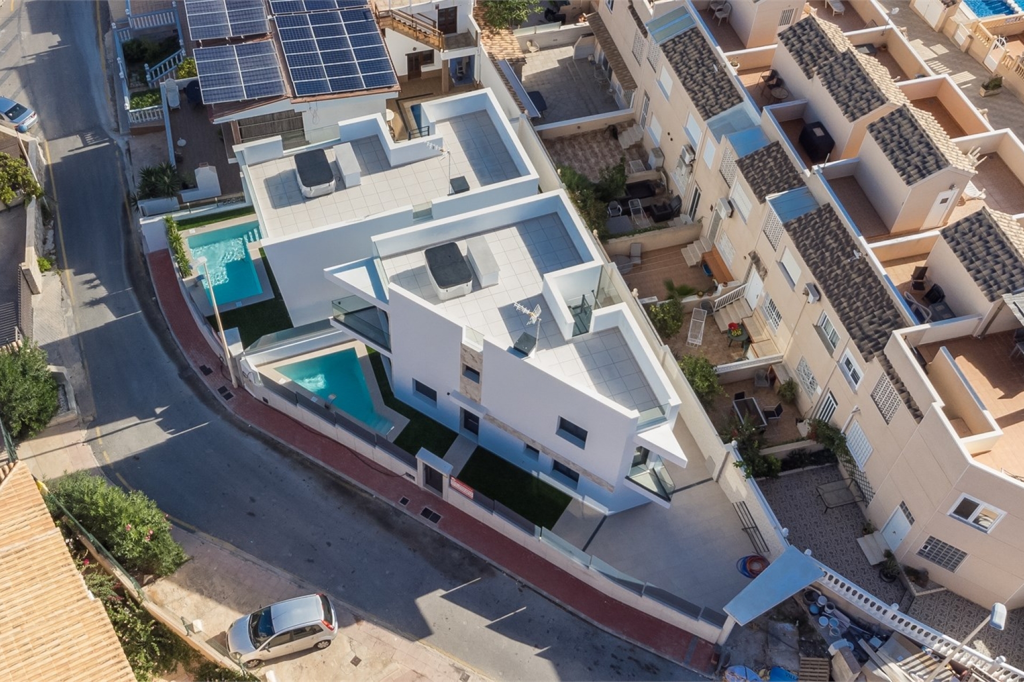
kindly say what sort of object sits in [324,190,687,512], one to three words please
house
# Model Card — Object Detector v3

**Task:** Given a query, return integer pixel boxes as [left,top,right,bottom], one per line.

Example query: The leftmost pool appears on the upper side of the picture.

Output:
[186,226,262,305]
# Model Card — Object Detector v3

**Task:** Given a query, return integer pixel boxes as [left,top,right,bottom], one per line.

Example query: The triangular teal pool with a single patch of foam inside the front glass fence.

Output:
[273,347,394,434]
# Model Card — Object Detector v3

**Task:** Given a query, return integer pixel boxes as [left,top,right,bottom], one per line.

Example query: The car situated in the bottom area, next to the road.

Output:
[223,587,341,661]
